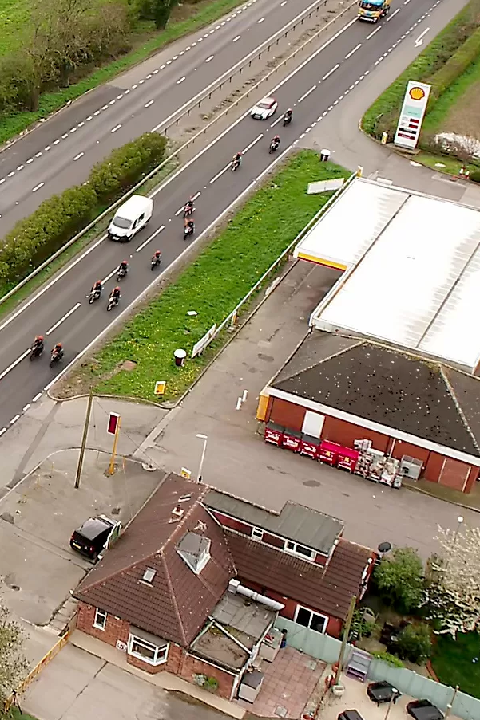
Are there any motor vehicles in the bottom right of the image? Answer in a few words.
No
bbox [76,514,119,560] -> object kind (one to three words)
car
